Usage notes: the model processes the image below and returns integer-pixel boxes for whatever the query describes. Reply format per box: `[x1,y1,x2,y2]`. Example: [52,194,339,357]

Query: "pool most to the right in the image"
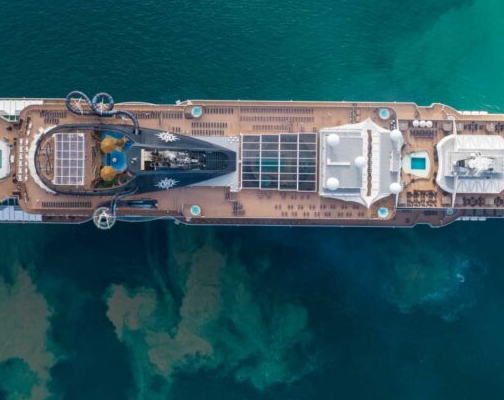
[404,149,431,179]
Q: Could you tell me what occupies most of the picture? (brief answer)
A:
water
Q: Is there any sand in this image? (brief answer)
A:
No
